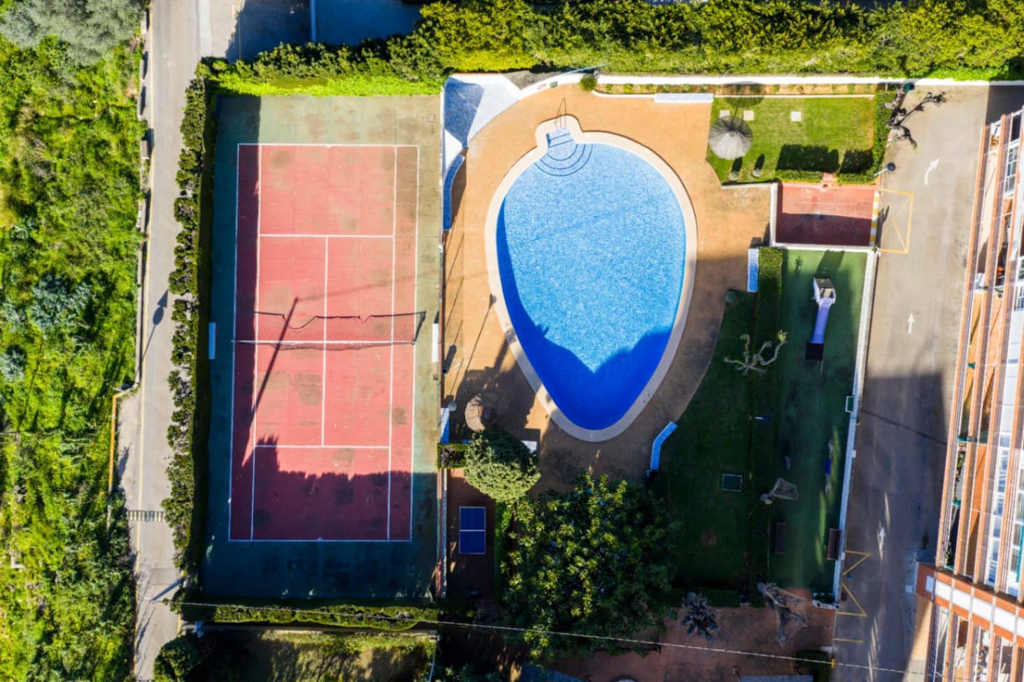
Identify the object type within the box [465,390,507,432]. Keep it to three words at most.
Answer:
umbrella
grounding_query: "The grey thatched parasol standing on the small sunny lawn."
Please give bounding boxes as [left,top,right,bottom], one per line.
[708,116,752,159]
